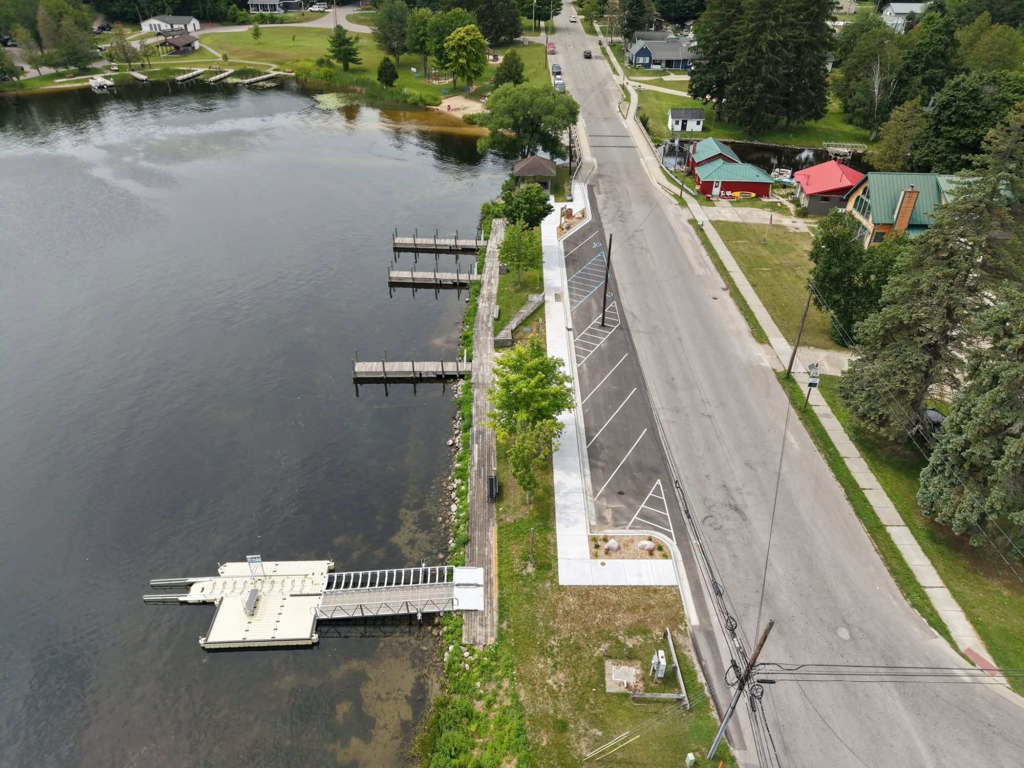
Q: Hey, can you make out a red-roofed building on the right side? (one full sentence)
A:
Yes, you'll find a red-roofed building on the right side.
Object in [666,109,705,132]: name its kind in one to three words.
shed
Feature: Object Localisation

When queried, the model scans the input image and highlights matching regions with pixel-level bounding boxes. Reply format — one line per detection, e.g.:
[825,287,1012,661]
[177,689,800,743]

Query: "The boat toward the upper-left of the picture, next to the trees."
[91,72,109,85]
